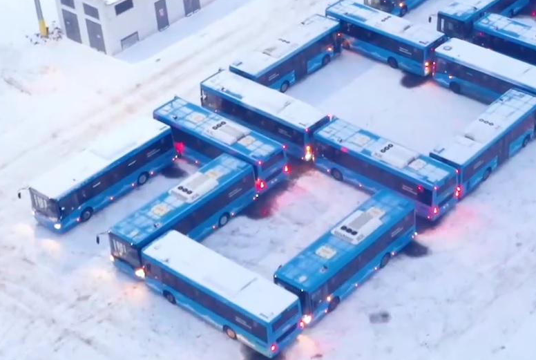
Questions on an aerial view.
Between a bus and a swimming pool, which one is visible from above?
bus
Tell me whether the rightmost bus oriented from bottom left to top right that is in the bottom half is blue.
Yes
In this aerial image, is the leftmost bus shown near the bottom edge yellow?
No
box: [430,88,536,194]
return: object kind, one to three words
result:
bus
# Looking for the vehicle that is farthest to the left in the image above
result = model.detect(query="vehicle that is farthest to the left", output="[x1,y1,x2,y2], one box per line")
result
[21,120,173,228]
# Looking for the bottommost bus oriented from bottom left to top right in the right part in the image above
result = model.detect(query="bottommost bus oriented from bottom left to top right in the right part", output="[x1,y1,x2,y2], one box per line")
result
[265,192,414,321]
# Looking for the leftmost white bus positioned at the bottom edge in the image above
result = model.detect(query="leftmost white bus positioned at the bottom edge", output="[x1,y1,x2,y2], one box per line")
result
[132,227,300,352]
